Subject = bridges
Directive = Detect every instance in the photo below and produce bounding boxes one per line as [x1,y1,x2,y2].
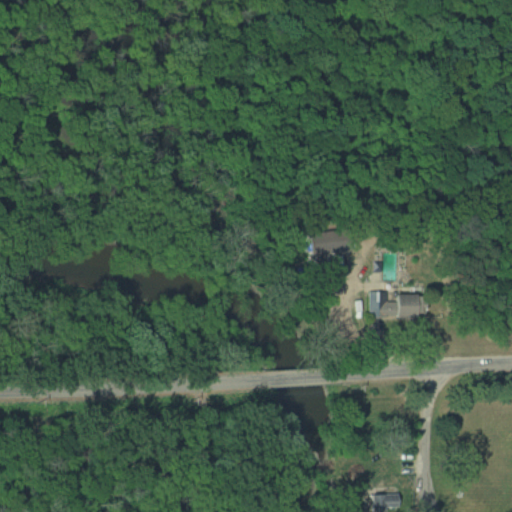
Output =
[263,368,328,388]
